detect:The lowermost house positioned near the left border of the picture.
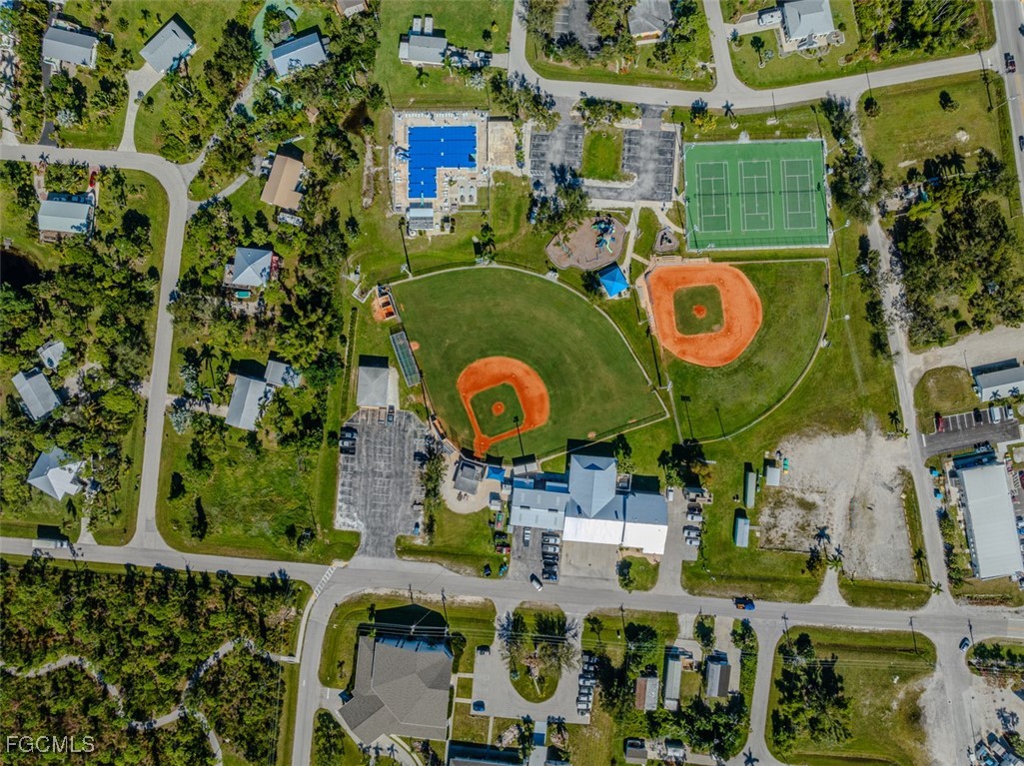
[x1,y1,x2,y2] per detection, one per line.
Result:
[28,448,91,501]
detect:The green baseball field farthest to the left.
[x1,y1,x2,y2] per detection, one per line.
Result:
[391,267,665,463]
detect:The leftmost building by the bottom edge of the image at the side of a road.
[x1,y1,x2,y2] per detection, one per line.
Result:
[339,634,452,745]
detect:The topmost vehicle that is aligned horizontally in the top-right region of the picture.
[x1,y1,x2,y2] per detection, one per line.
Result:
[758,8,783,21]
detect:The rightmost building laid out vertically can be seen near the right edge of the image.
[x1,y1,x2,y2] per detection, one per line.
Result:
[955,463,1024,580]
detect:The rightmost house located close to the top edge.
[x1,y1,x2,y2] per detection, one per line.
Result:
[783,0,834,42]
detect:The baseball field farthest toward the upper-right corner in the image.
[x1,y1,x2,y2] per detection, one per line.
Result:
[650,260,829,444]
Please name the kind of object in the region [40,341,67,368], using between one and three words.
house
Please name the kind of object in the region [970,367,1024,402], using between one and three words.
building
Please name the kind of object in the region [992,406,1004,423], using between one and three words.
vehicle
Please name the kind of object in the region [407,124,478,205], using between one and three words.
swimming pool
